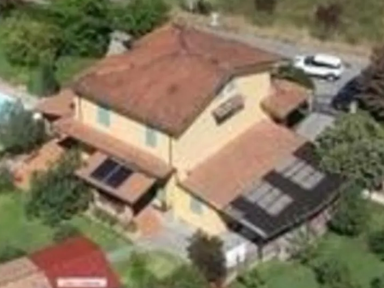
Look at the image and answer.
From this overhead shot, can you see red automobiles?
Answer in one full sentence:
No, there's no red automobile here.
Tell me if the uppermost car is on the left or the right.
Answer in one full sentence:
It is on the right.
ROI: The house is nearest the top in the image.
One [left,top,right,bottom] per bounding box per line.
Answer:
[34,28,310,239]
